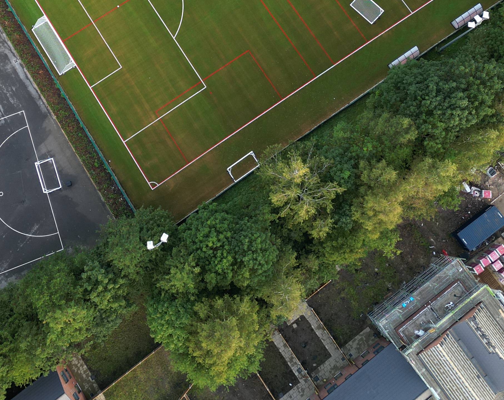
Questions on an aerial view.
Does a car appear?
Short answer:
No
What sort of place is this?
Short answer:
sports ground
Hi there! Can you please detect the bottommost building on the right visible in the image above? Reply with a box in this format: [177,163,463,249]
[298,340,430,400]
